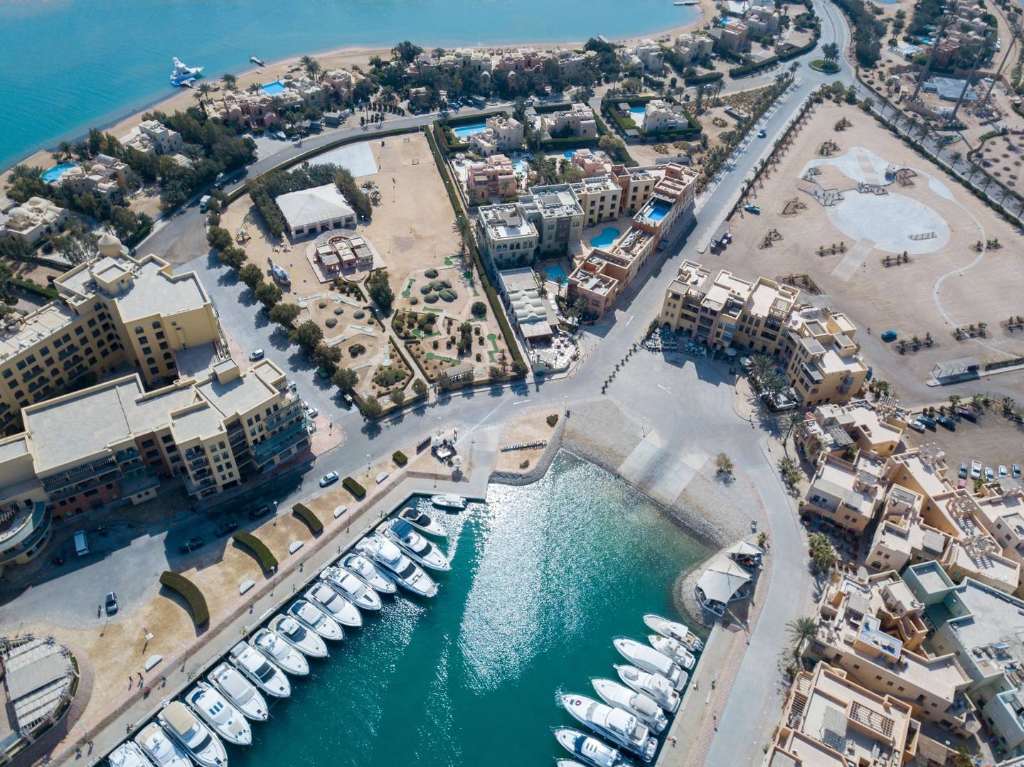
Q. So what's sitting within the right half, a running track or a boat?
boat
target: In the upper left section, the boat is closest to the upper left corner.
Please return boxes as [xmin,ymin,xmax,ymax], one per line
[167,65,204,87]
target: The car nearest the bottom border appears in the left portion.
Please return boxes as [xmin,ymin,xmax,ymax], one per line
[103,589,118,615]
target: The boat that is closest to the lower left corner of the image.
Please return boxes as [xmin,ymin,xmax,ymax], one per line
[103,739,158,767]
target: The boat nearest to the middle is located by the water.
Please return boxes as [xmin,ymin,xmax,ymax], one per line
[431,491,472,511]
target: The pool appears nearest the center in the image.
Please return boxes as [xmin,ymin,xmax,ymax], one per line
[545,263,569,287]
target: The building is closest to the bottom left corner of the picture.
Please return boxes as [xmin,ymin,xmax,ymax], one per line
[2,638,80,745]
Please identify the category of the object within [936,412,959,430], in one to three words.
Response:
car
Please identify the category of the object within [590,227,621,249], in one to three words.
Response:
swimming pool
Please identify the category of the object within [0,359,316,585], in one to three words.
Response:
building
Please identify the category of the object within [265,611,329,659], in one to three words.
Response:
boat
